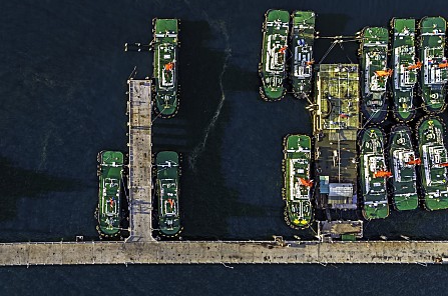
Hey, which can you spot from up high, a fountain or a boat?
boat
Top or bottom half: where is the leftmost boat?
bottom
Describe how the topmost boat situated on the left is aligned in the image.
from top to bottom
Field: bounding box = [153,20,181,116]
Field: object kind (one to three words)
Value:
boat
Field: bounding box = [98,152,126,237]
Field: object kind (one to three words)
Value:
boat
